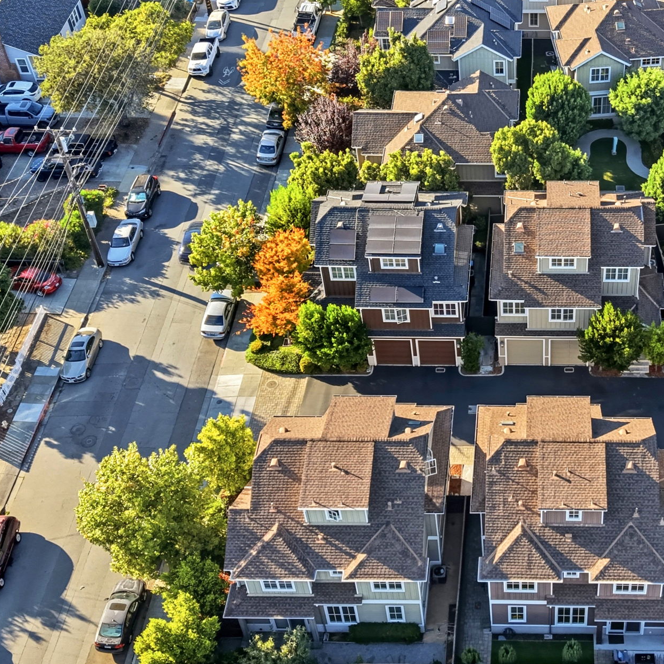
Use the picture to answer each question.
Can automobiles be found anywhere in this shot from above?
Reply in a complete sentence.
Yes, looking at the shot, I can spot an automobile.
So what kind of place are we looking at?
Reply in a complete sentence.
The area seen from above is a residential area.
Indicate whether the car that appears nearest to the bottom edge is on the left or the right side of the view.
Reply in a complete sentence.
The car that appears nearest to the bottom edge is on the left side of the image.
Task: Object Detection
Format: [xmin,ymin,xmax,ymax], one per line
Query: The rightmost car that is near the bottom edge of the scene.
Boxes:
[92,584,149,655]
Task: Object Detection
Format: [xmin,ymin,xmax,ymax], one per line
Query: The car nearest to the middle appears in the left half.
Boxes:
[199,295,238,343]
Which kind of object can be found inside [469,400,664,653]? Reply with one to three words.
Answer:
house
